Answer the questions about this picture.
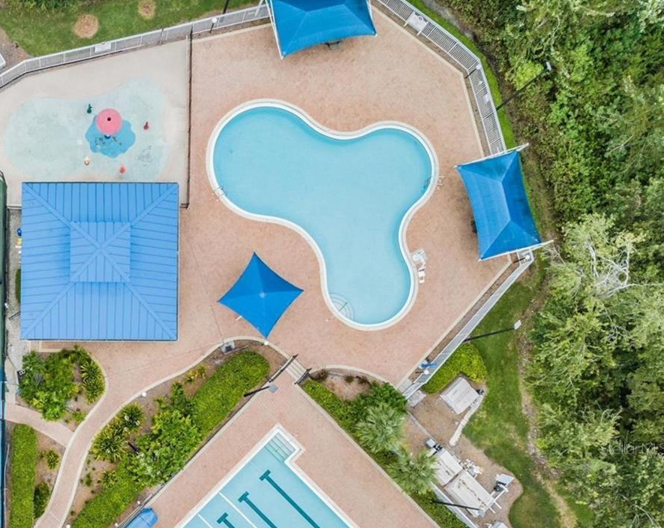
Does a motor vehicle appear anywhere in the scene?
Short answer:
No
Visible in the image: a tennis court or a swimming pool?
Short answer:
swimming pool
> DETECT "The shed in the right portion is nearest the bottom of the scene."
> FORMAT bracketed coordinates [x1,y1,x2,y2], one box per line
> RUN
[434,378,483,413]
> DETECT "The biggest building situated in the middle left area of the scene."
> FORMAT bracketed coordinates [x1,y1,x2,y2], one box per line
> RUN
[19,181,181,344]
